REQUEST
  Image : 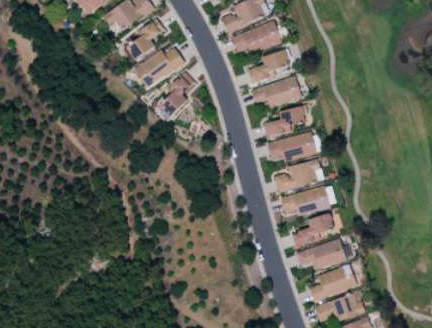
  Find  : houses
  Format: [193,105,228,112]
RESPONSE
[126,16,166,60]
[105,0,156,34]
[310,265,358,302]
[264,104,307,138]
[251,76,302,107]
[231,22,280,54]
[130,46,185,88]
[267,132,321,160]
[274,160,325,192]
[281,186,336,216]
[296,239,353,270]
[315,290,364,322]
[292,212,335,247]
[222,0,270,34]
[76,0,104,14]
[248,48,290,82]
[156,71,196,120]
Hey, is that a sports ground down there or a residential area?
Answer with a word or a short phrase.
residential area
